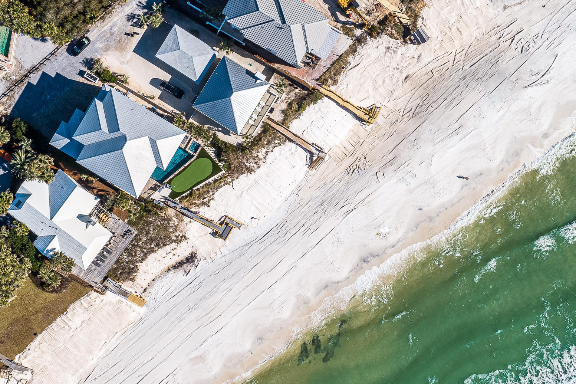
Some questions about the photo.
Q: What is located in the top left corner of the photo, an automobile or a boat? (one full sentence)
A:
You can see an automobile in the top left corner of the photo.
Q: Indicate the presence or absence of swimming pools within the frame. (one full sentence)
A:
Yes, a swimming pool is visible in the scene.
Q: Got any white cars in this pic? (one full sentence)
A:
No, the frame has no white car in it.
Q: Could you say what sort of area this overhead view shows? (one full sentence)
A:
It's a beach.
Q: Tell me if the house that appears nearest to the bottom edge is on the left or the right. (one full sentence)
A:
You can find the house that appears nearest to the bottom edge on the left side of the picture.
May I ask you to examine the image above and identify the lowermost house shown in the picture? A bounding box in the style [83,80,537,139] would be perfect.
[8,170,122,270]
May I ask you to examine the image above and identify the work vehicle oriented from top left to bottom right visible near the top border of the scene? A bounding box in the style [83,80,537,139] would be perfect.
[335,0,375,33]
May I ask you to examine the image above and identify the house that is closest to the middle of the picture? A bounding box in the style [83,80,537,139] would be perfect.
[192,57,286,135]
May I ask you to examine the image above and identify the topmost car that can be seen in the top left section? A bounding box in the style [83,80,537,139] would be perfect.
[71,36,91,54]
